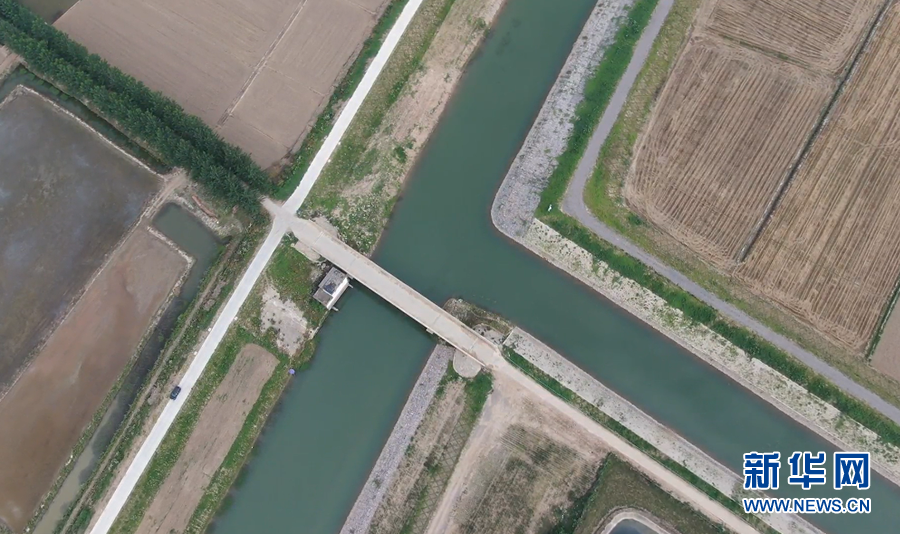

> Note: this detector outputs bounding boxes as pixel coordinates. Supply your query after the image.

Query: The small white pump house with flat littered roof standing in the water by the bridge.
[311,267,353,312]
